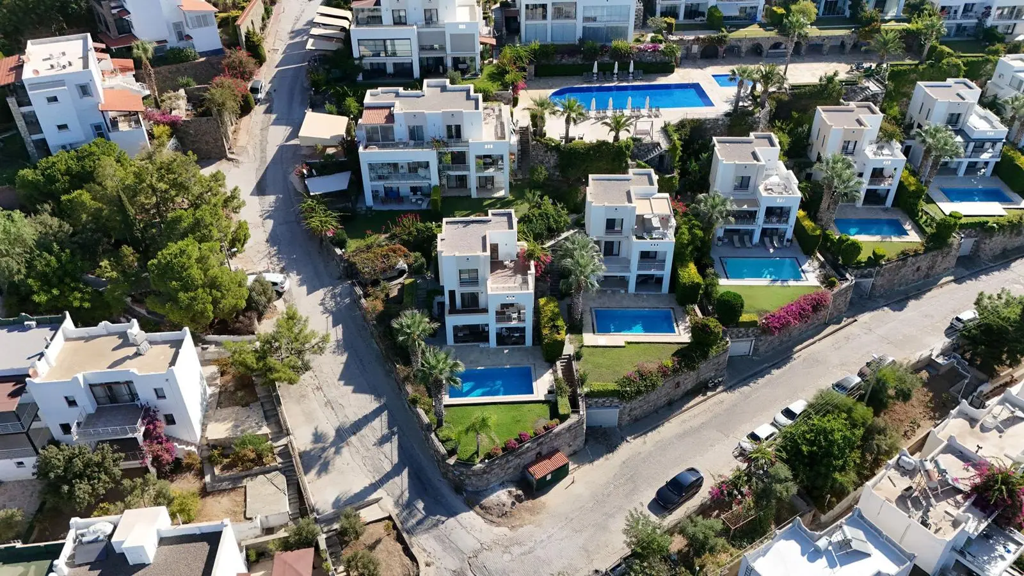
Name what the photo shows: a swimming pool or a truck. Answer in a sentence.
Visible in the photo is a swimming pool.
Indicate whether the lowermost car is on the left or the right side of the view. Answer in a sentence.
The lowermost car appears in the right half of the scene.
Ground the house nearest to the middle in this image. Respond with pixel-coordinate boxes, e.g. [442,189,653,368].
[440,206,533,346]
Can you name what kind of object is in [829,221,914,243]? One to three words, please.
swimming pool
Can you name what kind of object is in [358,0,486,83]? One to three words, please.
house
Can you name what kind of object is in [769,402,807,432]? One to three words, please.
car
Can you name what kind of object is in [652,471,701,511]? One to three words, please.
car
